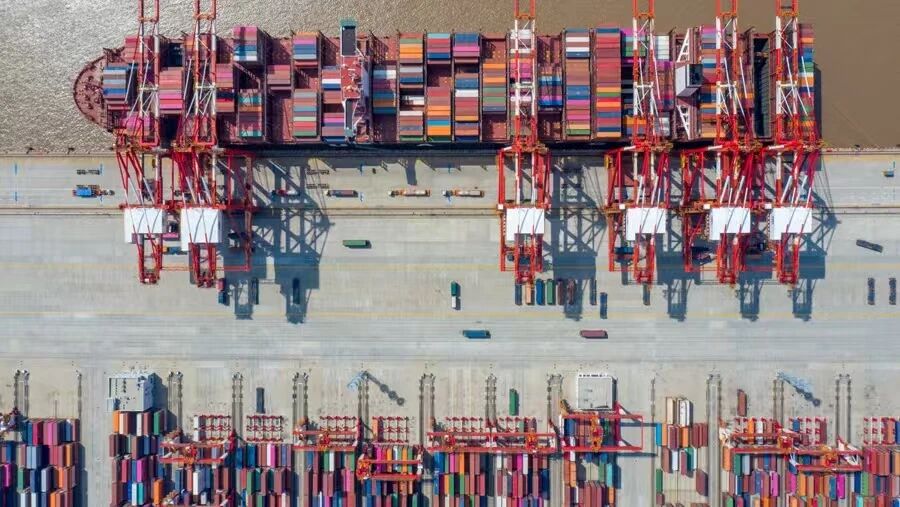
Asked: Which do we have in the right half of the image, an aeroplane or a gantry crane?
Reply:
gantry crane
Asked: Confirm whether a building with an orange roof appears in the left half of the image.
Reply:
No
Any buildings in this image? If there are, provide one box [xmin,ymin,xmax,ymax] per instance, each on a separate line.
[108,370,158,411]
[575,373,613,409]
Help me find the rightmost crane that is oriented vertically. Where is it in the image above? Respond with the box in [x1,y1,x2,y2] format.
[724,0,830,286]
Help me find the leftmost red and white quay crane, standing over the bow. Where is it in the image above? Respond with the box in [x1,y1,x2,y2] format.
[111,0,203,286]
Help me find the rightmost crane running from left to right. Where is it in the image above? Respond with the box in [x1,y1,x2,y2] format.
[780,434,862,470]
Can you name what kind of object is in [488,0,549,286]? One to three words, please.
container crane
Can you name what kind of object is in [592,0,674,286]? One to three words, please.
container crane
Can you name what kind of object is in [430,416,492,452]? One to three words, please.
crane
